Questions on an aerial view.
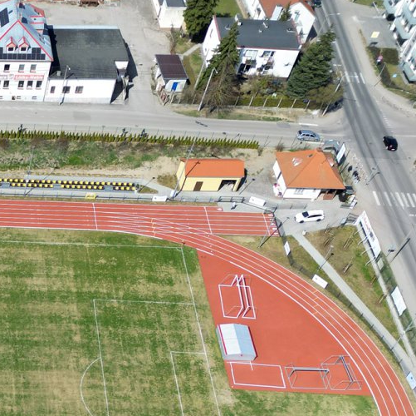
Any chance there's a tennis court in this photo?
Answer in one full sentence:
No, I can see no tennis court in this picture.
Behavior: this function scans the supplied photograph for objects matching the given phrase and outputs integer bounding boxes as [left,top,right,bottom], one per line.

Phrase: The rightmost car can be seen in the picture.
[383,132,401,148]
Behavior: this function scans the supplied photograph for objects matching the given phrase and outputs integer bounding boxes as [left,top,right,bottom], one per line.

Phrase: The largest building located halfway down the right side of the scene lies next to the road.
[273,139,349,206]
